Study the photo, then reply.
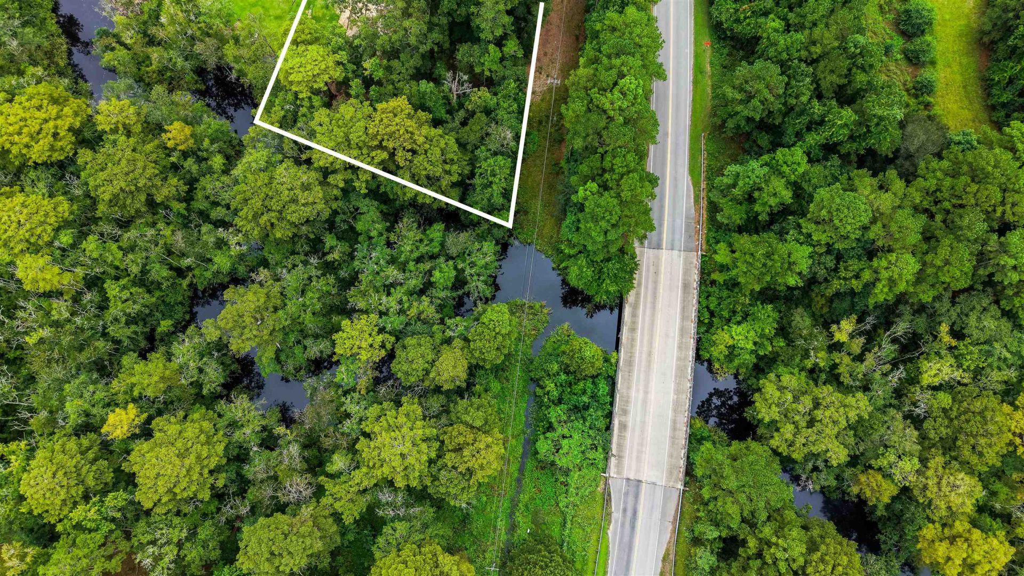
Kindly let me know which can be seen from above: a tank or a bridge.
bridge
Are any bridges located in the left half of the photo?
No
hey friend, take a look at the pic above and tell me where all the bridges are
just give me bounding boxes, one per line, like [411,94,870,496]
[599,243,701,492]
